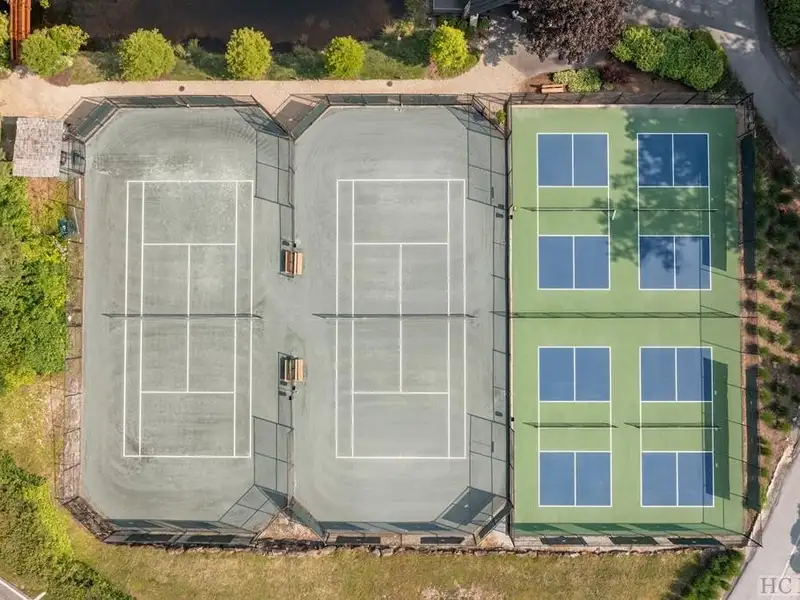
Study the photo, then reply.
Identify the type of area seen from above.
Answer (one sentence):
The area seen from above is a sports ground.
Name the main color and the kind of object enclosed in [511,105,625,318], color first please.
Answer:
green sports court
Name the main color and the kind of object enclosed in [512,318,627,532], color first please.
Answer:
green sports court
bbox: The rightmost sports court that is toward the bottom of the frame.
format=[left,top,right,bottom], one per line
[625,318,745,532]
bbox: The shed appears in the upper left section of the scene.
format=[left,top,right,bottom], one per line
[11,117,73,180]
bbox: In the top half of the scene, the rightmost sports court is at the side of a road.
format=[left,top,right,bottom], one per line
[623,105,741,318]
